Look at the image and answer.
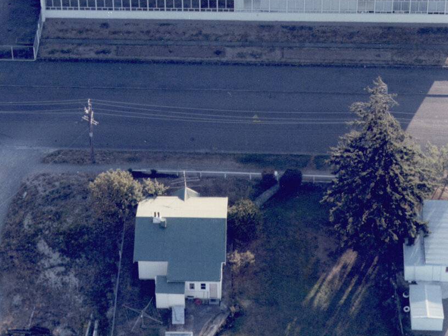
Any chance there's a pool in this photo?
No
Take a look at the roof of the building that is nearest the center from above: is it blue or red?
blue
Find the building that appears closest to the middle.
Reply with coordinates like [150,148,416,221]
[134,187,228,304]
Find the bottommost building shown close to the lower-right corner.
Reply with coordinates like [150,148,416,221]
[408,281,446,332]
